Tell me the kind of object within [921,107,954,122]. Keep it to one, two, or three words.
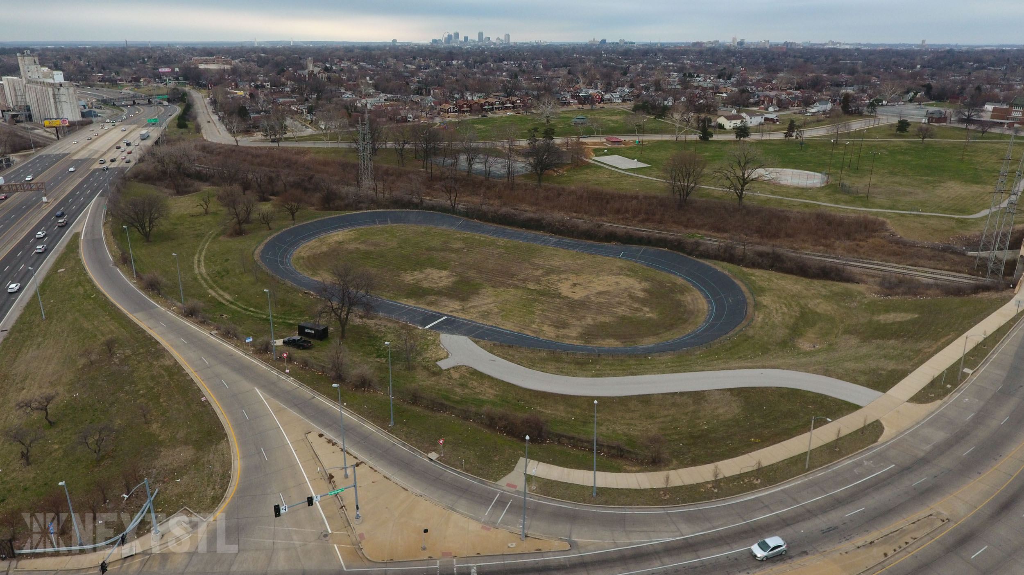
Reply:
house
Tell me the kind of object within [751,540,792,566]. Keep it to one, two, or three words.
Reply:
car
